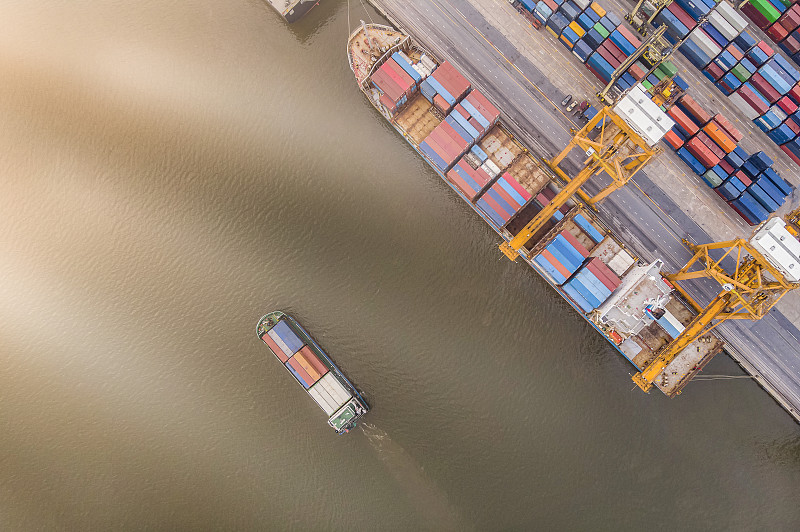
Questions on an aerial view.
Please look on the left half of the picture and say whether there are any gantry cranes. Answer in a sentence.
No, there is no gantry crane on the left half of the picture.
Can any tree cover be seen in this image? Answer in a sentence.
No, there's no tree cover in this view.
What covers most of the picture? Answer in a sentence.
What you mostly see from above here is water.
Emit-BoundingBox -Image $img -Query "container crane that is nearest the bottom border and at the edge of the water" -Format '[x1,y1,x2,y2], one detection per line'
[627,205,800,399]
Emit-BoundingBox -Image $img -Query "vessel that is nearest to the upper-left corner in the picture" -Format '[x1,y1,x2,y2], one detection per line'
[264,0,321,28]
